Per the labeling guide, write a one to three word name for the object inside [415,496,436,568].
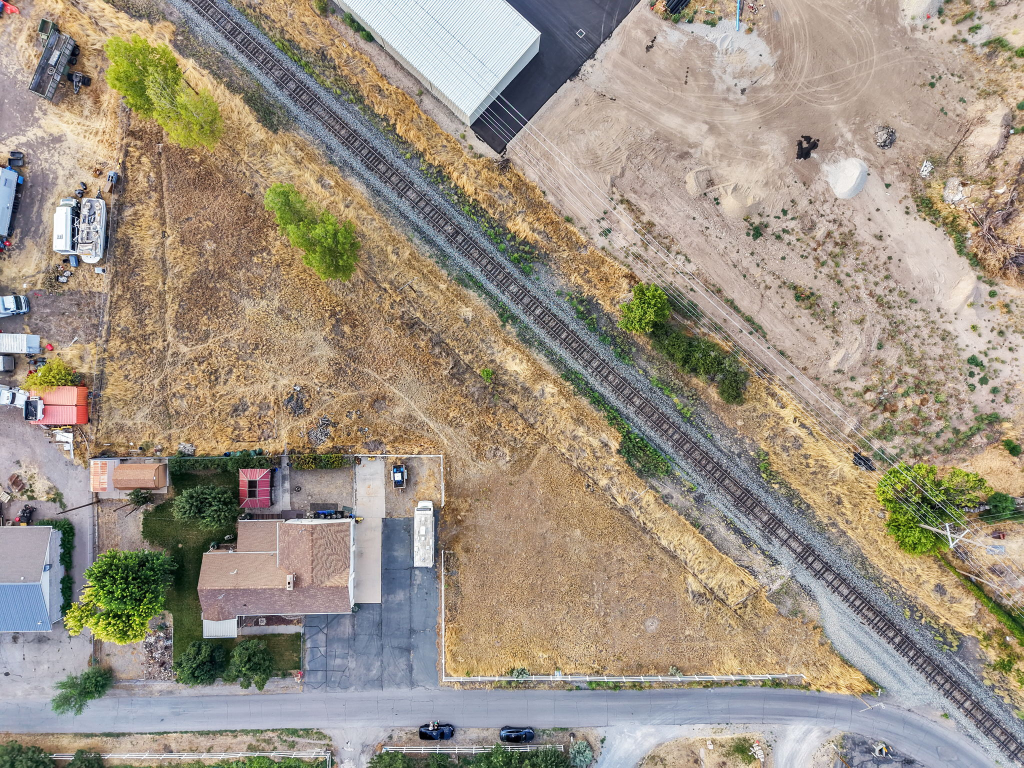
camper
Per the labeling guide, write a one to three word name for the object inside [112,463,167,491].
shed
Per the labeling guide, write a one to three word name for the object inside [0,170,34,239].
trailer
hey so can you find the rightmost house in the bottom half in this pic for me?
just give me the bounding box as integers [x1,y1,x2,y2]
[198,516,358,639]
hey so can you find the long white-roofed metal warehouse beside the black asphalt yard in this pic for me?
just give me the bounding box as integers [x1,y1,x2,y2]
[334,0,543,126]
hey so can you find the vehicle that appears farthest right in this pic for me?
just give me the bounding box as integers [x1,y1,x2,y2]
[500,724,534,744]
